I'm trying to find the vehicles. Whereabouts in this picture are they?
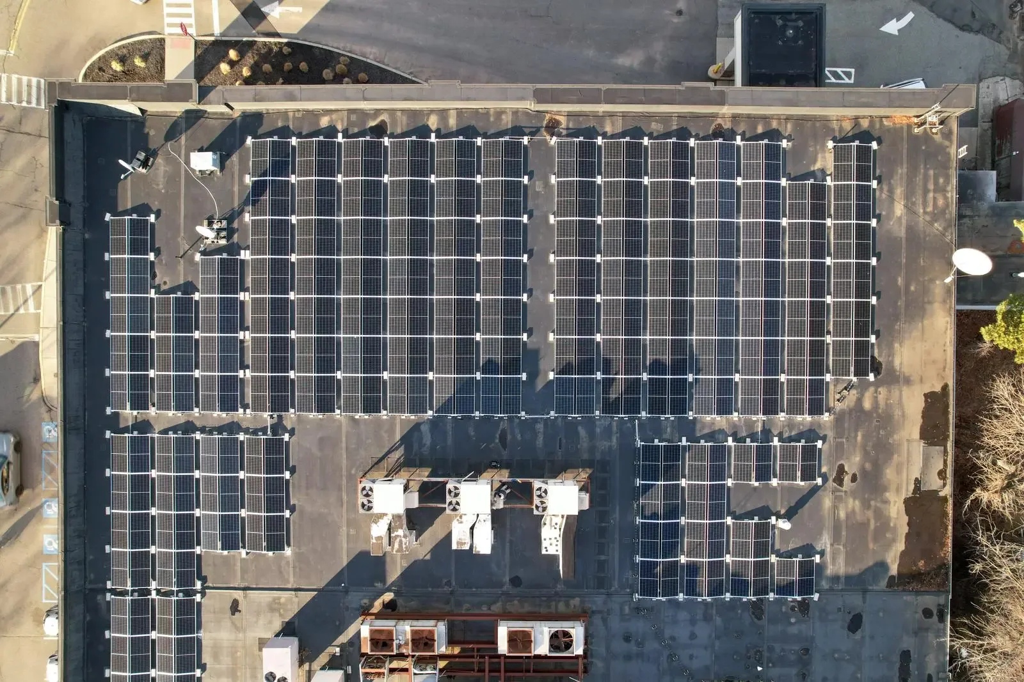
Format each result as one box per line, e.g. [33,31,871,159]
[46,659,58,682]
[0,434,19,512]
[880,72,947,88]
[44,609,58,642]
